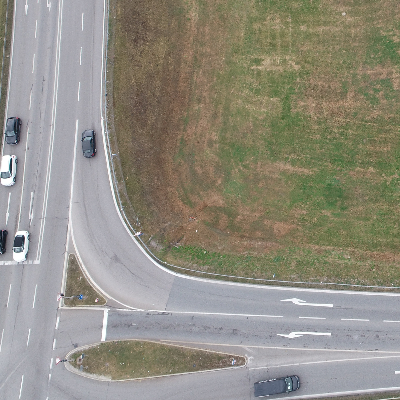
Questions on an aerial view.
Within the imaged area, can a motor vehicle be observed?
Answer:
Yes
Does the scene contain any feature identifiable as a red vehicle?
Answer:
No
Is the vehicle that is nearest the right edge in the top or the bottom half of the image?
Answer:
bottom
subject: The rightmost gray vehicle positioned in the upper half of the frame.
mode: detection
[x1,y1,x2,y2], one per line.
[81,130,97,158]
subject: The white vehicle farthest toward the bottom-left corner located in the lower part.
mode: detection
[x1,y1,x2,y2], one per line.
[11,231,30,263]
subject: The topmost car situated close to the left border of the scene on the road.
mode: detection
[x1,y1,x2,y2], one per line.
[4,117,22,145]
